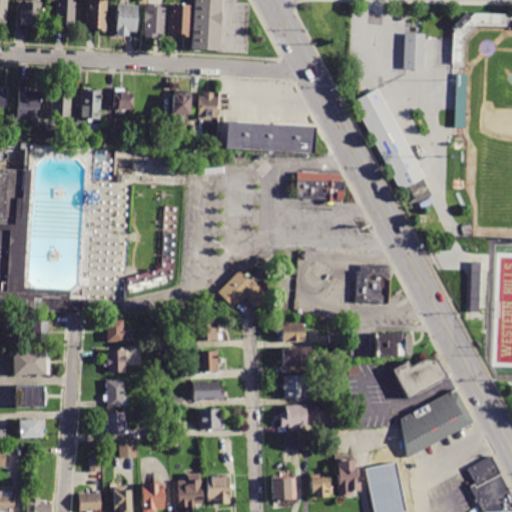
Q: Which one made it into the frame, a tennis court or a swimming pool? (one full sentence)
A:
There is a swimming pool in the scene.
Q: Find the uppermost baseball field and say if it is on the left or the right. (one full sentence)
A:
The uppermost baseball field appears in the right half of the scene.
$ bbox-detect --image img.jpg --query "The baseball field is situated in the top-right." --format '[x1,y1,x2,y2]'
[463,28,512,236]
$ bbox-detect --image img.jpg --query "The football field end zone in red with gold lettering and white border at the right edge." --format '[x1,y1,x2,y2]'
[486,240,512,382]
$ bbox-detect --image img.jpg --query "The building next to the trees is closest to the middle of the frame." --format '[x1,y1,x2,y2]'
[218,272,263,305]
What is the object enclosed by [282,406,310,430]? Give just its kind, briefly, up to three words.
house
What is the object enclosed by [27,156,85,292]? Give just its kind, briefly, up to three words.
swimming pool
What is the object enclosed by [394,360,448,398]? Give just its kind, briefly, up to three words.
building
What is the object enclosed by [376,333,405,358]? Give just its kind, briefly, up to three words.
building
